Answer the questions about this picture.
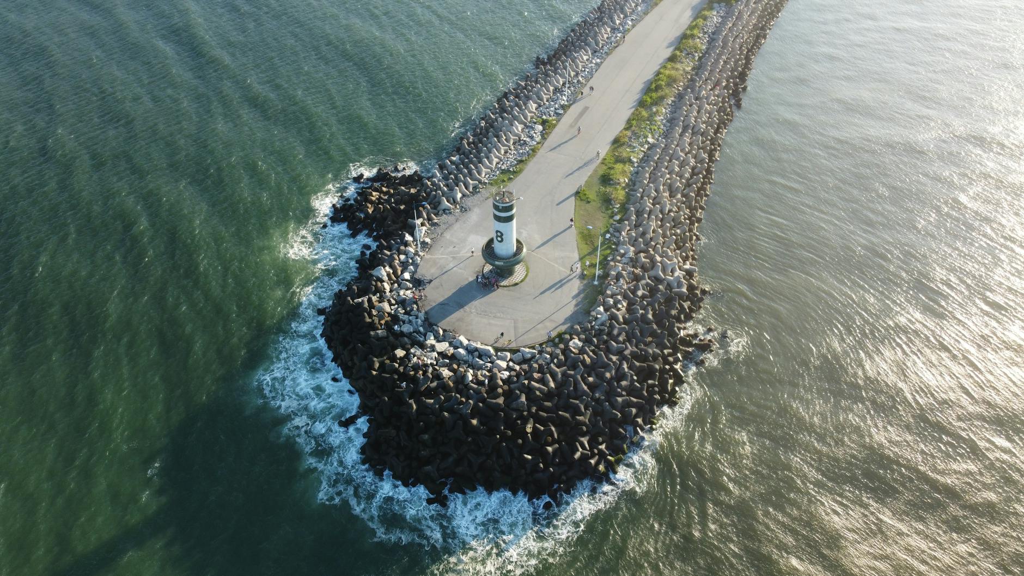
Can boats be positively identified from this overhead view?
No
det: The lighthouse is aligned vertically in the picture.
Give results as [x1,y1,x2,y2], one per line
[484,182,530,287]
